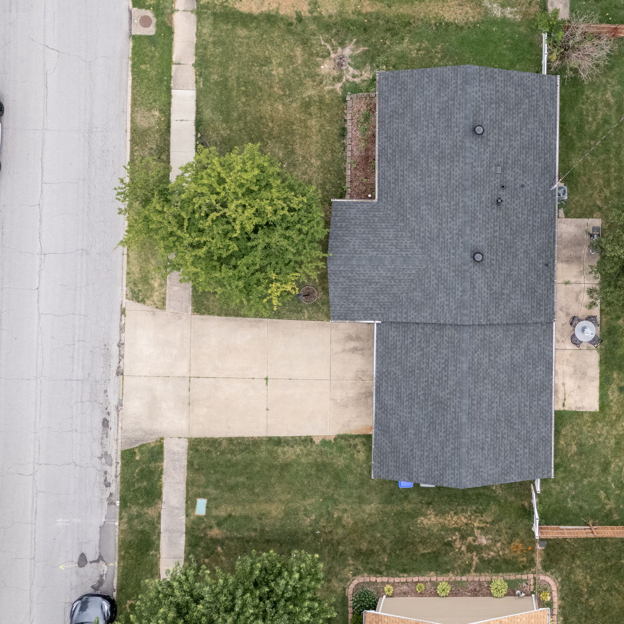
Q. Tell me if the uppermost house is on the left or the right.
right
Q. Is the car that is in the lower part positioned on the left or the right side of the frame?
left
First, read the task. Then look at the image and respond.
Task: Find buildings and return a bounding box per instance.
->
[328,64,561,488]
[362,596,552,624]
